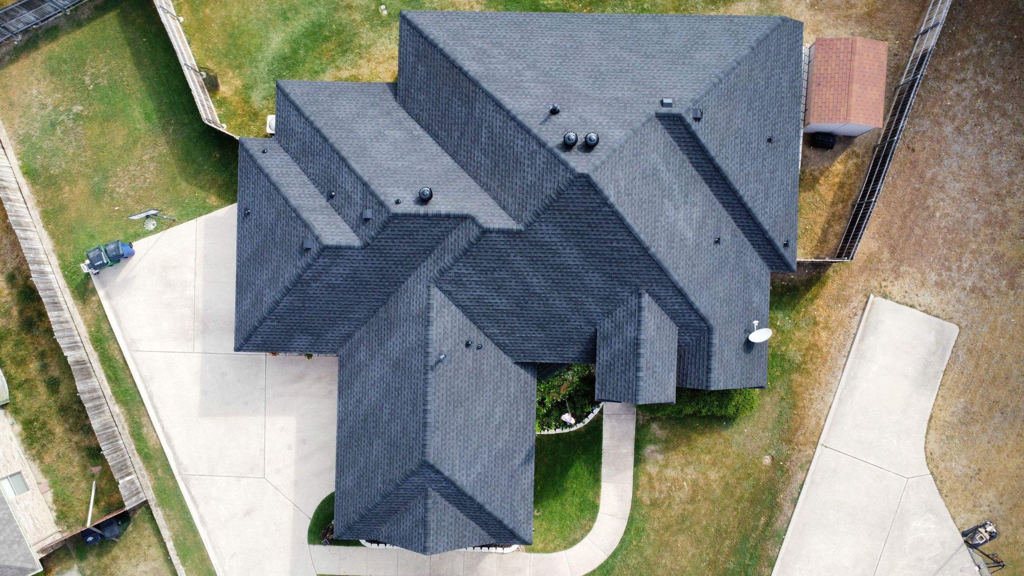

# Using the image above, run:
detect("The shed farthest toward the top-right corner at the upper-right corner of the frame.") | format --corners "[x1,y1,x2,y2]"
[804,37,888,136]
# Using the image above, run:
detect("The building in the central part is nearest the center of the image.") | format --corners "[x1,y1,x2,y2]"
[232,8,807,560]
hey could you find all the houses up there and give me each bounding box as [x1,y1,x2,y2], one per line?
[232,8,807,560]
[0,404,61,576]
